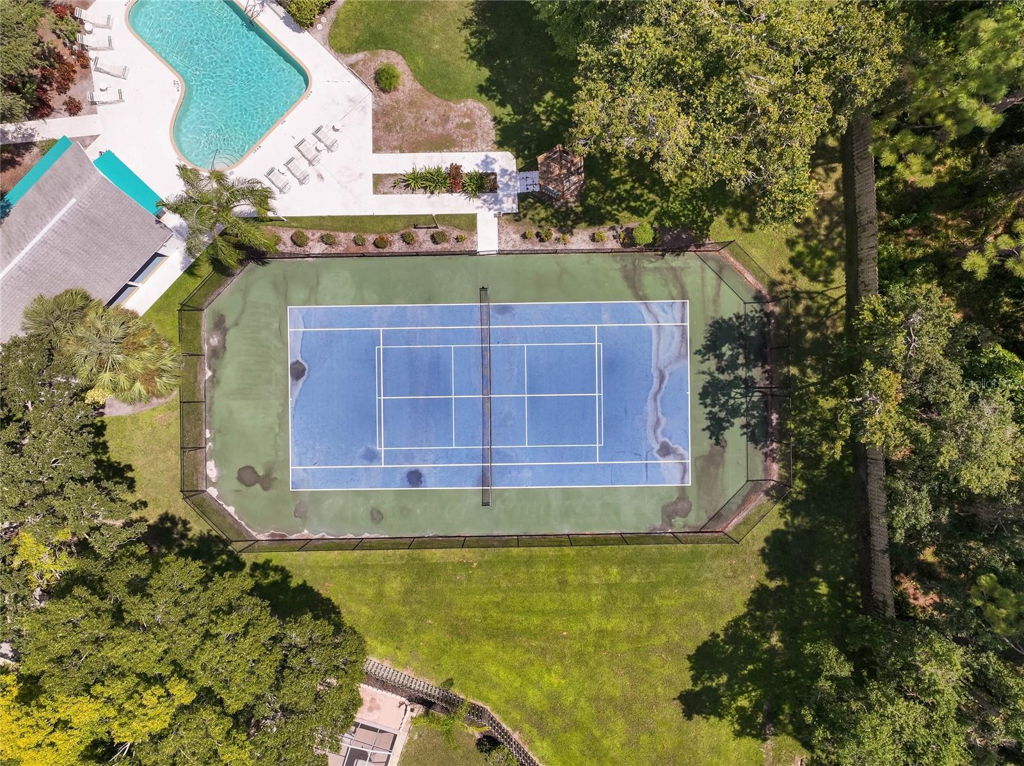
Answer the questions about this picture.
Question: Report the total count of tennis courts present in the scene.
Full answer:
My tally gives 1 tennis court in this photo.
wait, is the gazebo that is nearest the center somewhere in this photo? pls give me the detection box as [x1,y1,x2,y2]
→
[536,145,585,205]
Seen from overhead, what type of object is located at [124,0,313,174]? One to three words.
swimming pool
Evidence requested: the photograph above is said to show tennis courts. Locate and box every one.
[205,251,771,540]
